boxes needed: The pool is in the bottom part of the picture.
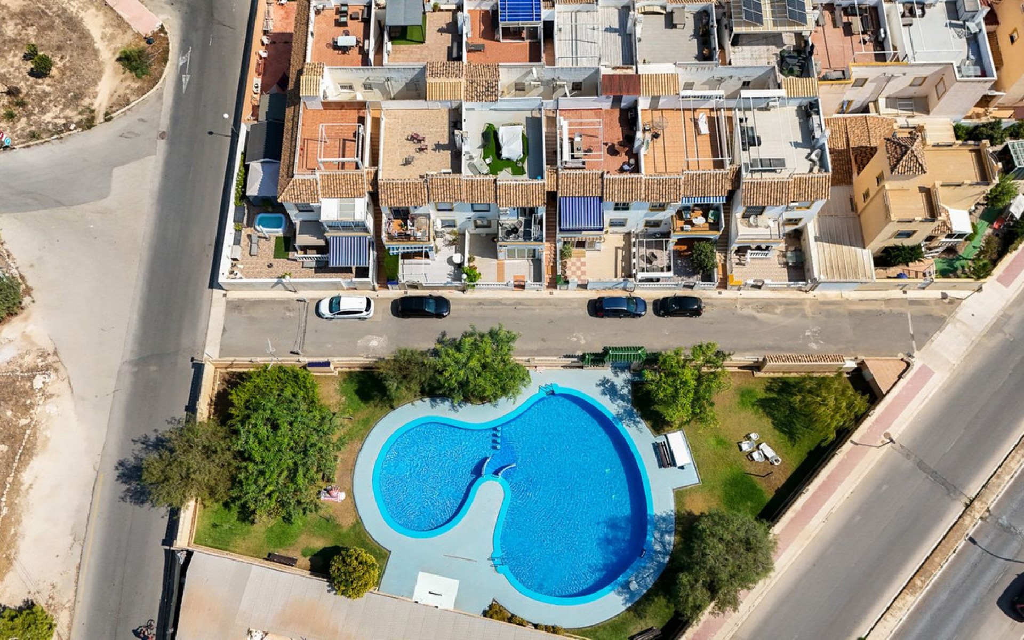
[372,383,654,604]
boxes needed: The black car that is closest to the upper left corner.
[399,292,450,320]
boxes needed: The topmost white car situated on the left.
[321,293,374,321]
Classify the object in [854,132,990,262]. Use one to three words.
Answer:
house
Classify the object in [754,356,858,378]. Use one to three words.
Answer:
shed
